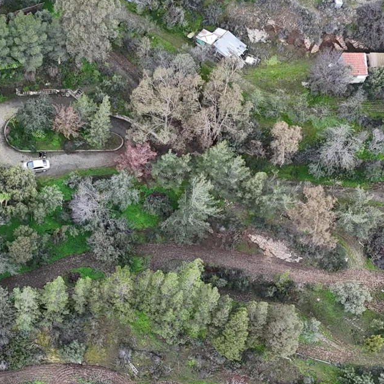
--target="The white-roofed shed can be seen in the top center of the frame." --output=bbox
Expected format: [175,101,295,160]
[195,28,246,64]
